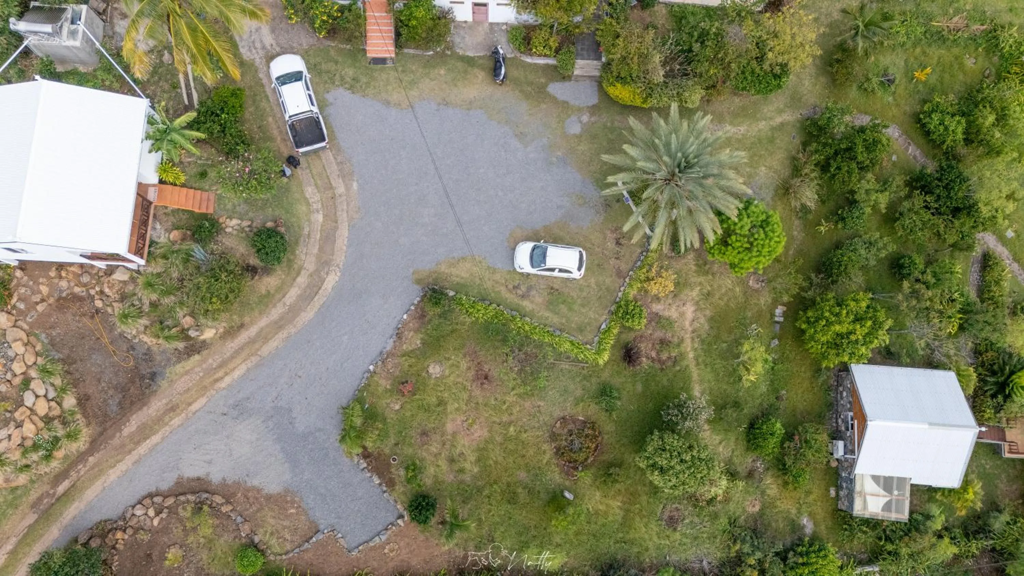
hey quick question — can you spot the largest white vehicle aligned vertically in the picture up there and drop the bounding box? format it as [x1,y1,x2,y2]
[270,58,328,158]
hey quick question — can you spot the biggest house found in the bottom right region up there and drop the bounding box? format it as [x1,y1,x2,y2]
[834,364,989,489]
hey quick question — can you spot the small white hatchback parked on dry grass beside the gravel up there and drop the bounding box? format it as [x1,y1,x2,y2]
[513,239,587,282]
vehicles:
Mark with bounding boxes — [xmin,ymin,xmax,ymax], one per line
[513,239,587,282]
[486,41,507,84]
[270,58,328,158]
